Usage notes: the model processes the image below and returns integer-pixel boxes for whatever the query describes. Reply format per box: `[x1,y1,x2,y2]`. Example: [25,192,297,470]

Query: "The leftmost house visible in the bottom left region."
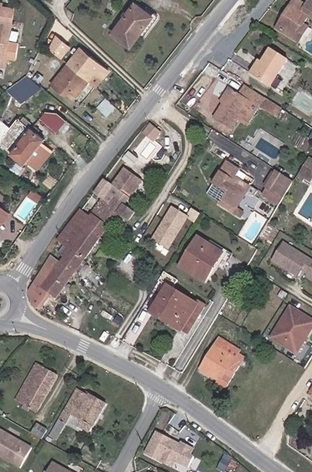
[0,426,32,468]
